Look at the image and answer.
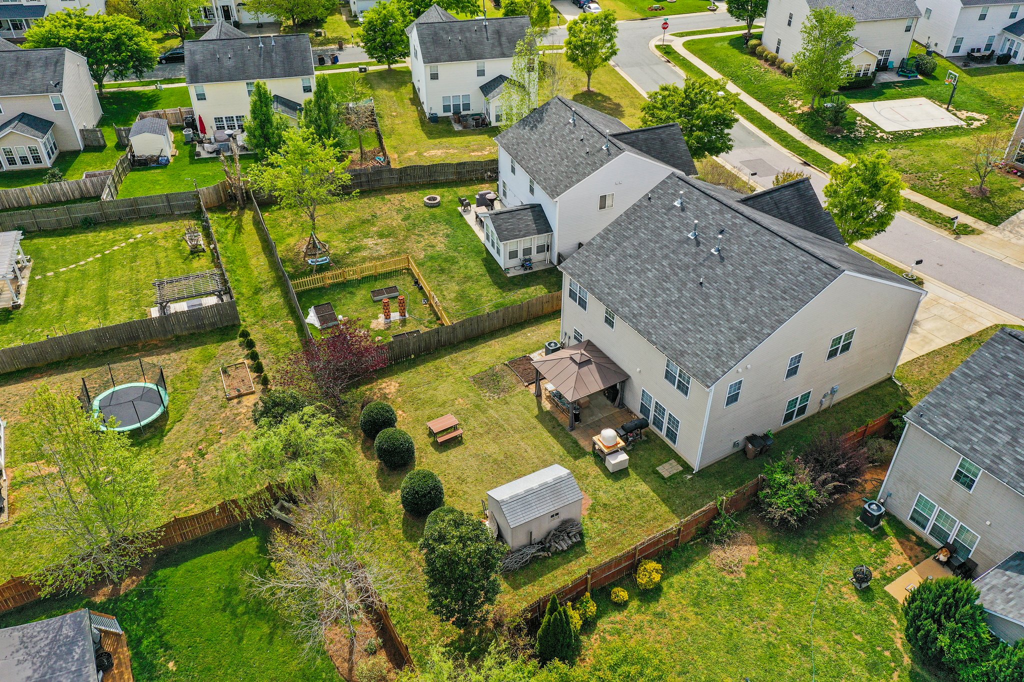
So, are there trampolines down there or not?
Yes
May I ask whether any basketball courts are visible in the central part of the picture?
No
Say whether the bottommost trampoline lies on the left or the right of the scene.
left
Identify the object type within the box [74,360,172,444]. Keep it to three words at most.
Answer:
trampoline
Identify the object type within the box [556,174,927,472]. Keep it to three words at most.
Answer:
house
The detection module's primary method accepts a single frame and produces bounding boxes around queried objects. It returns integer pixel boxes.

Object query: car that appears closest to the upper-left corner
[157,47,187,64]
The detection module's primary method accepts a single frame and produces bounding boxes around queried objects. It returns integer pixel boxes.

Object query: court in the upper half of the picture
[851,96,971,131]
